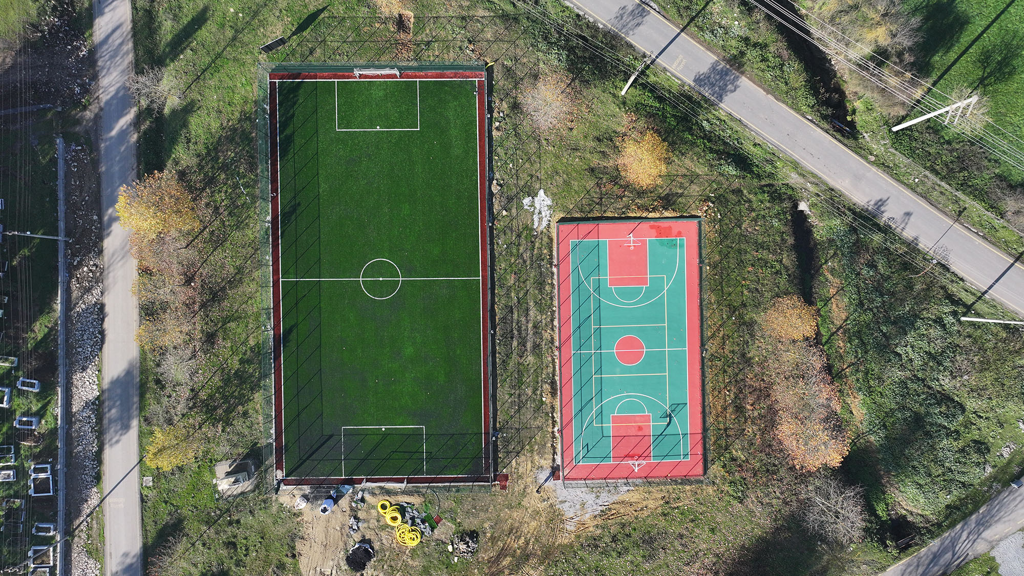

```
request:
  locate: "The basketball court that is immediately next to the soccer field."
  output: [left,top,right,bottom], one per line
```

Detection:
[555,220,706,483]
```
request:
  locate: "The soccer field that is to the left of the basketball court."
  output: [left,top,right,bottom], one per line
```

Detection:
[268,72,493,487]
